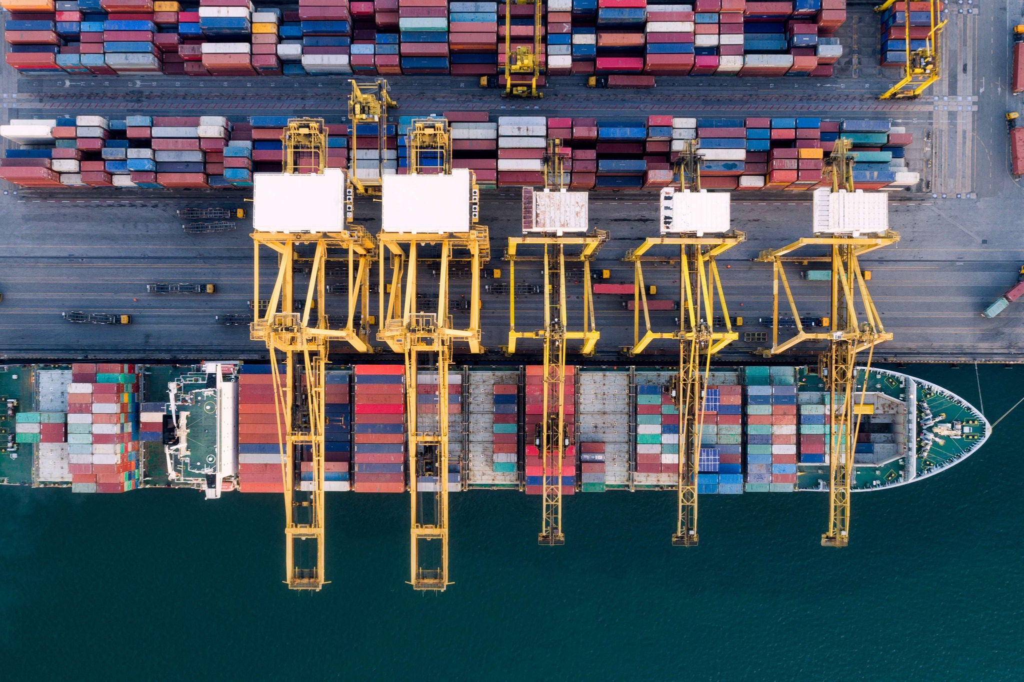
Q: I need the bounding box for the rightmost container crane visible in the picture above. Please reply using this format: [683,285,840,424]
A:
[871,0,944,98]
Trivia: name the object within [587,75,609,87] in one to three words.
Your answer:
vehicle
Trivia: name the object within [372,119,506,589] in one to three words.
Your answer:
container crane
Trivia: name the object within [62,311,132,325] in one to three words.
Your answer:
vehicle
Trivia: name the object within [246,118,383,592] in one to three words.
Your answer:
container crane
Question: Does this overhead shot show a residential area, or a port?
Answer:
port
